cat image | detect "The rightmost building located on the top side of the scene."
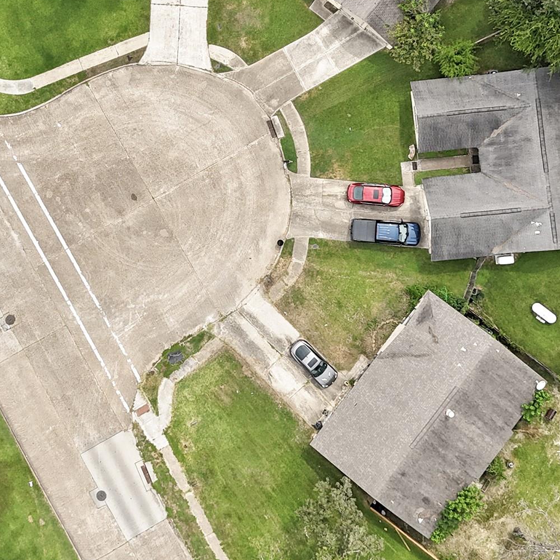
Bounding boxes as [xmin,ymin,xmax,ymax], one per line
[409,67,560,261]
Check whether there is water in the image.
No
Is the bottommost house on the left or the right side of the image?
right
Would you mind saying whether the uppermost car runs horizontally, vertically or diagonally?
horizontally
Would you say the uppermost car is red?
Yes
